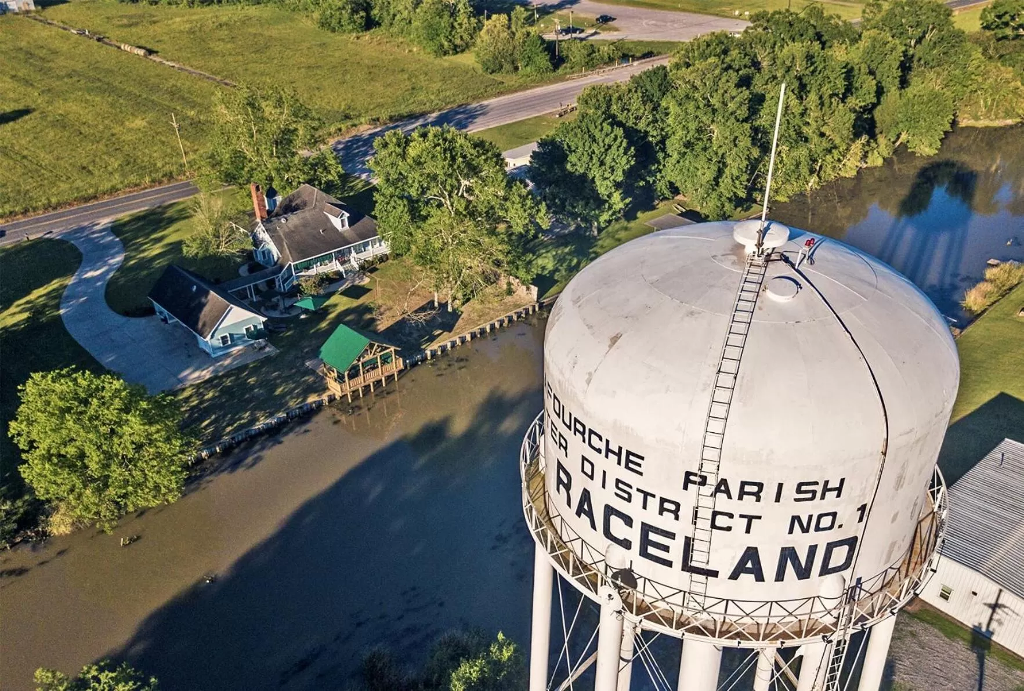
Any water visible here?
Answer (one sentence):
Yes, some water is visible.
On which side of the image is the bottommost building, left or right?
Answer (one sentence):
The bottommost building appears in the right half of the scene.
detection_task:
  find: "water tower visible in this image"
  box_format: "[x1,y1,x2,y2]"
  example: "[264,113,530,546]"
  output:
[518,83,956,691]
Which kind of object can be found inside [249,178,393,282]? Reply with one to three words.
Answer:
house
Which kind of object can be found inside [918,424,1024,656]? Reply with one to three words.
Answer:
building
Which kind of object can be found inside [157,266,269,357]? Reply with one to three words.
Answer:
building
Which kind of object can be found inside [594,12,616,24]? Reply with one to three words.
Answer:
vehicle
